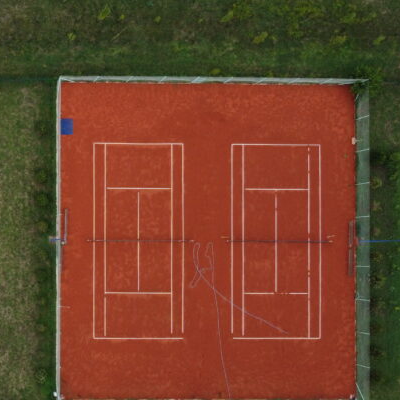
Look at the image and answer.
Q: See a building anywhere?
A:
No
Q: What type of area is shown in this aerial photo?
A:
sports ground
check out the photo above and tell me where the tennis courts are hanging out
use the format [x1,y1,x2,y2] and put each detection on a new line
[208,82,357,400]
[57,82,208,400]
